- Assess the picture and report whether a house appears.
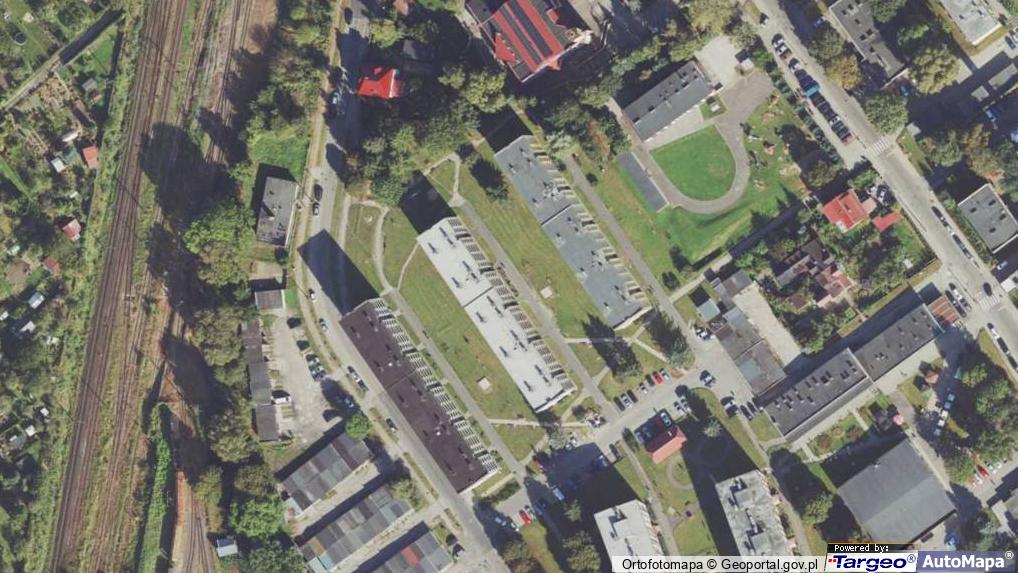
Yes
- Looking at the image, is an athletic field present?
Yes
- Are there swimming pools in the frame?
No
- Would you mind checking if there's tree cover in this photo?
Yes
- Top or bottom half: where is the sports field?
top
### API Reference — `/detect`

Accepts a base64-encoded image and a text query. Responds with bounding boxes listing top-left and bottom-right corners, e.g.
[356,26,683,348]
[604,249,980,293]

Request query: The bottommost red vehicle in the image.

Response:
[519,509,532,524]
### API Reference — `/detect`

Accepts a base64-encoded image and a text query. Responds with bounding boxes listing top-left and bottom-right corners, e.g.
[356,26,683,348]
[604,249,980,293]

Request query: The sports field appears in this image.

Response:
[635,110,754,213]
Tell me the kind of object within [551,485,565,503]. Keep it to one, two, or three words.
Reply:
vehicle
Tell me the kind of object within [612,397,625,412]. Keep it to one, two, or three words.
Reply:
vehicle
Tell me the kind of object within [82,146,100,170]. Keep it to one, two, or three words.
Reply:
shed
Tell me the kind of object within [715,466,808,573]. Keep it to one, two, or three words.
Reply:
building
